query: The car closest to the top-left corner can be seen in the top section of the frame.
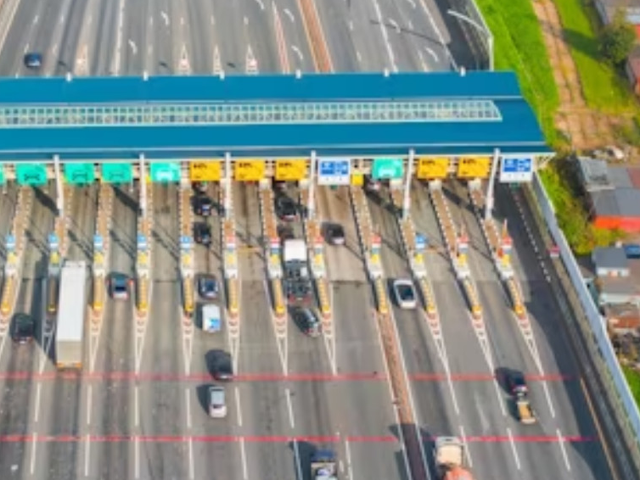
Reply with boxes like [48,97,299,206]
[24,48,41,70]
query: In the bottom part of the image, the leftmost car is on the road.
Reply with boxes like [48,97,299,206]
[12,313,35,344]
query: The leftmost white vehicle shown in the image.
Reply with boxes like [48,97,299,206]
[54,251,88,365]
